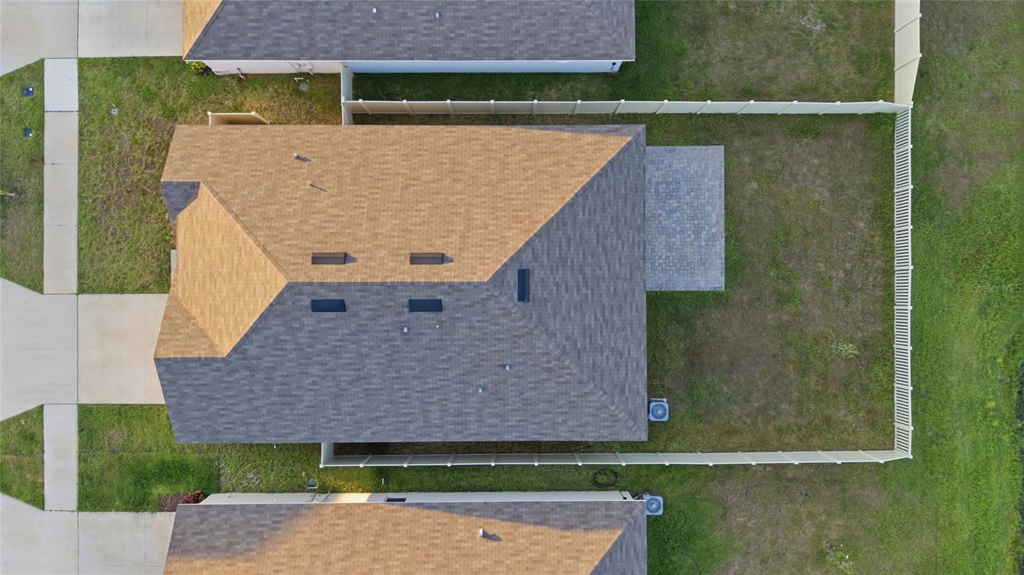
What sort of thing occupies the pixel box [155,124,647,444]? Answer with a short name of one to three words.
house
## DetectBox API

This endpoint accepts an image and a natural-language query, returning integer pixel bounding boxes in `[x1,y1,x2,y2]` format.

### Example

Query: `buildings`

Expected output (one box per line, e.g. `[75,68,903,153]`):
[160,484,646,575]
[182,0,635,82]
[155,124,647,444]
